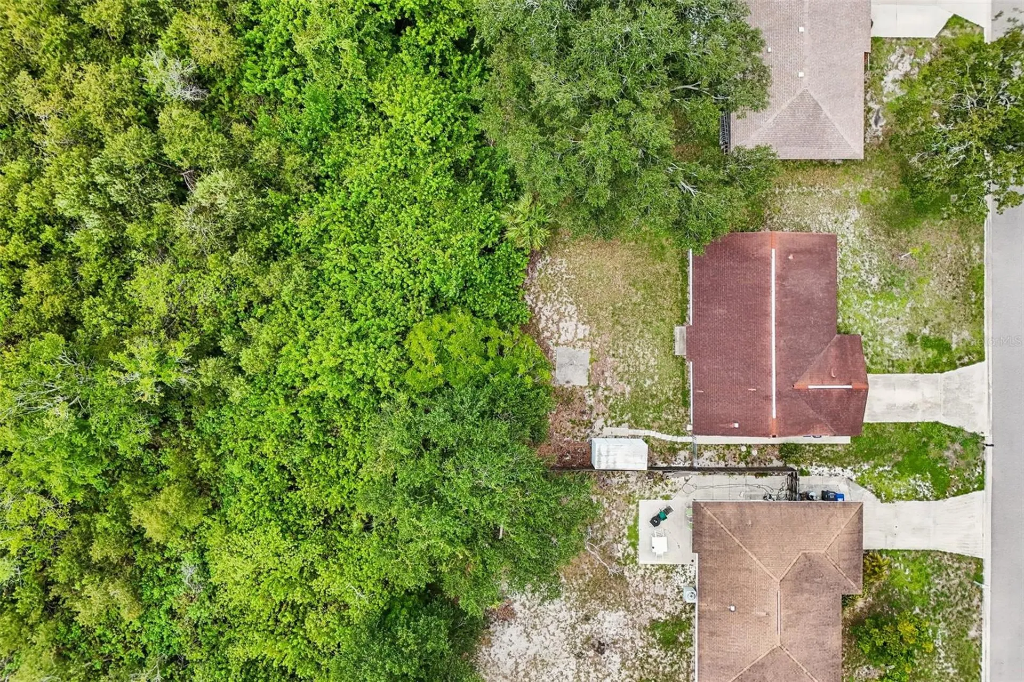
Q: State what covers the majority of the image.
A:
trees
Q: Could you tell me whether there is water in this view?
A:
No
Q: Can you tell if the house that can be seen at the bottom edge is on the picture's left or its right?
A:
right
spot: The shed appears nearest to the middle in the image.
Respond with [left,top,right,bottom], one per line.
[592,438,649,470]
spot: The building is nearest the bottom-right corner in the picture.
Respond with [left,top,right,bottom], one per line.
[692,499,863,682]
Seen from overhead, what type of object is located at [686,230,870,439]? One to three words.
house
